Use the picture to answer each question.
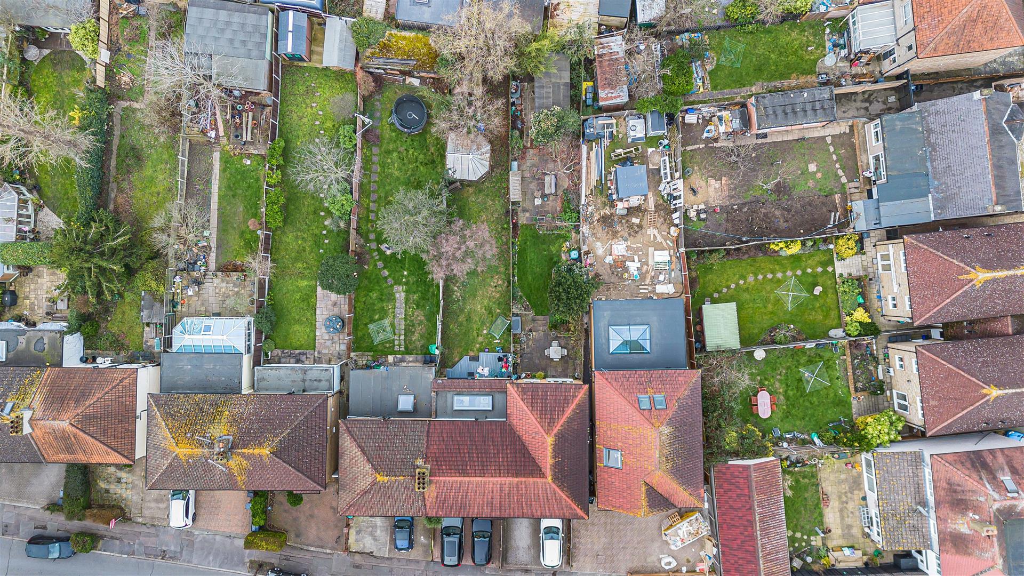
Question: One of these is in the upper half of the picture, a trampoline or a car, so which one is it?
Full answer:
There is a trampoline in the upper half of the picture.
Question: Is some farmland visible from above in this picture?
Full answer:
No, no farmland is visible.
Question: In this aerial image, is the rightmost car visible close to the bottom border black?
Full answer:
No, the color of the rightmost car visible close to the bottom border is white.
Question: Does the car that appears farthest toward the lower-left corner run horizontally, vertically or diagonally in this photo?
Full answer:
The car that appears farthest toward the lower-left corner is laid out horizontally.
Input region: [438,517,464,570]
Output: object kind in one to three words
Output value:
car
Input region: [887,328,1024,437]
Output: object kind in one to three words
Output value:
house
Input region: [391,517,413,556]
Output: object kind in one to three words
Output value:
car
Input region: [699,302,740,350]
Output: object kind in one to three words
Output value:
shed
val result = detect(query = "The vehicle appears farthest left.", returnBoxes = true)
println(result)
[17,537,71,565]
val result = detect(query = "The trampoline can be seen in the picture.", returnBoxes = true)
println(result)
[384,88,428,131]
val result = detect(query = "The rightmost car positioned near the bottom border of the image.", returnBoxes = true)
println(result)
[540,518,565,570]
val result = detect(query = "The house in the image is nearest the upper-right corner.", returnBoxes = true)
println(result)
[881,0,1024,75]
